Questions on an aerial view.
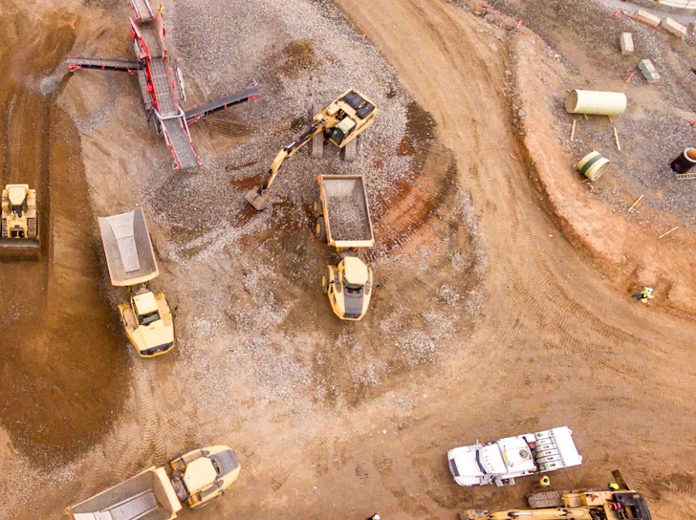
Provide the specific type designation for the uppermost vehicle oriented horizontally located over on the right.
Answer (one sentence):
Looking closely, the uppermost vehicle oriented horizontally located over on the right is a truck.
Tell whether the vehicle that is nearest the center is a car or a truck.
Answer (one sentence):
From above, the vehicle that is nearest the center can be identified as a truck.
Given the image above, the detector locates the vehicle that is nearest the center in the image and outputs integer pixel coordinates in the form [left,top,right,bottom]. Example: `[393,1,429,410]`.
[316,176,379,322]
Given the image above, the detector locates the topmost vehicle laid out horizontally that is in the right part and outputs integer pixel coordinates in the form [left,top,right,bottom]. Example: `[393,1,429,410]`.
[443,429,581,487]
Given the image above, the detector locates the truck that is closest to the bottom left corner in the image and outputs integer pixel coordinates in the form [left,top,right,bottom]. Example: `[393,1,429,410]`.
[69,446,235,520]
